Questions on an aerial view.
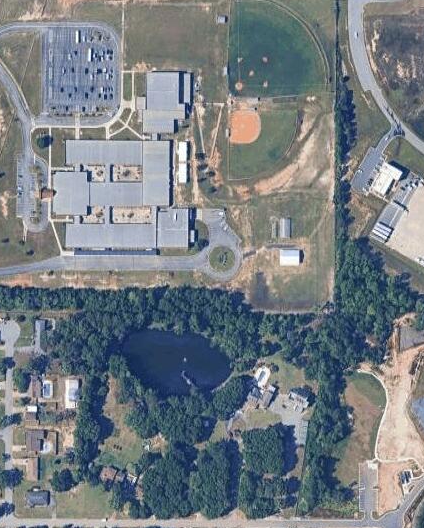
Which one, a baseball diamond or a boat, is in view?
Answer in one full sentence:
Of the two, only a baseball diamond appears.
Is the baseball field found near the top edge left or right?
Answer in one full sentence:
It is on the right.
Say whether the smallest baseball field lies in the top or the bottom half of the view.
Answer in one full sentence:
You can find the smallest baseball field in the top half.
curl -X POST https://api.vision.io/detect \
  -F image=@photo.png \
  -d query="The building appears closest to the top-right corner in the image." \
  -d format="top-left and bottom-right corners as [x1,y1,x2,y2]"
[369,162,403,196]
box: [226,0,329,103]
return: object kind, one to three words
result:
baseball field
